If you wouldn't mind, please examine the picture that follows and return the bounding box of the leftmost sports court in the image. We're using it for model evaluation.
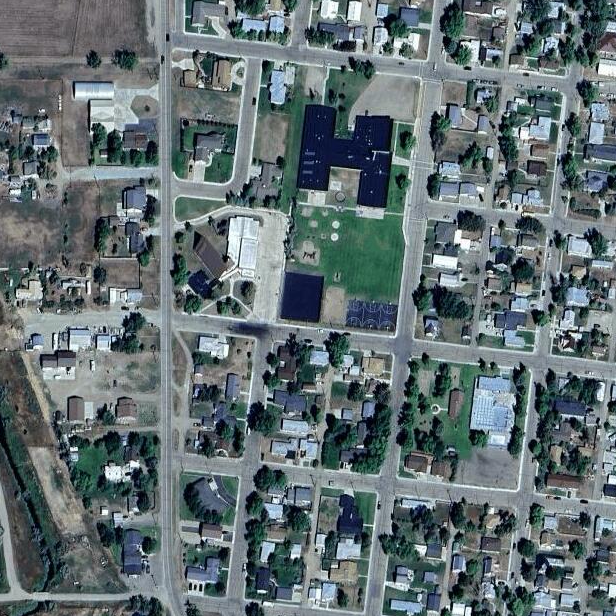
[281,272,324,321]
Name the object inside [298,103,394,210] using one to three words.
building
